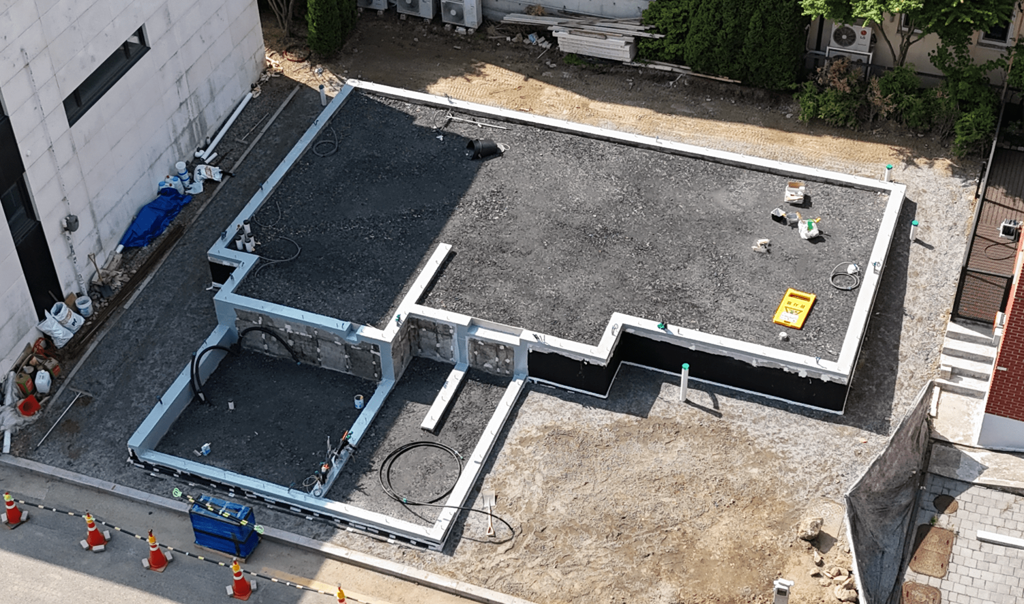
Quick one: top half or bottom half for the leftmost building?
top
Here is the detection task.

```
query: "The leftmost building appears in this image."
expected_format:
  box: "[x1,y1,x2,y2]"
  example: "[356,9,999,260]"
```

[0,0,267,373]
